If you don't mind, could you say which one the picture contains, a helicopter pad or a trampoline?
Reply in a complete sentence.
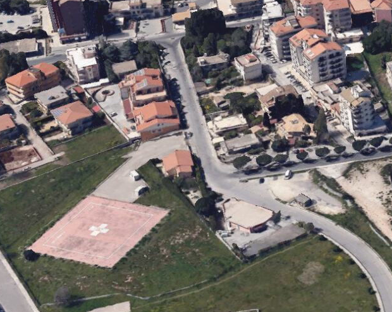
The one in the frame is a helicopter pad.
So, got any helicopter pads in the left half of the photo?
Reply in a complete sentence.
Yes, you'll find a helicopter pad in the left half of the photo.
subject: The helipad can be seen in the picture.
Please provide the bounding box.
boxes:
[30,199,169,268]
